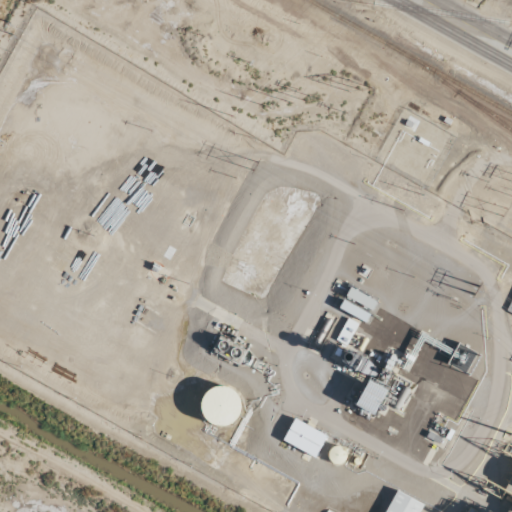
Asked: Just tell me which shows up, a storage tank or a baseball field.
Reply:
storage tank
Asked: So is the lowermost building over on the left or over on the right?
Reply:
right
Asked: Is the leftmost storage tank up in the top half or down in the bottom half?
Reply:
bottom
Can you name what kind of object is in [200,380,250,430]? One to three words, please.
storage tank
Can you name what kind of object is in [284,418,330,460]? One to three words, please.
building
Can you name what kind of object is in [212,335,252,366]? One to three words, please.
cooling tower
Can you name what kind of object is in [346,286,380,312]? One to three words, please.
building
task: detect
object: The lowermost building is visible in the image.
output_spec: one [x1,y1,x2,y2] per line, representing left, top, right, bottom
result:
[386,484,428,512]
